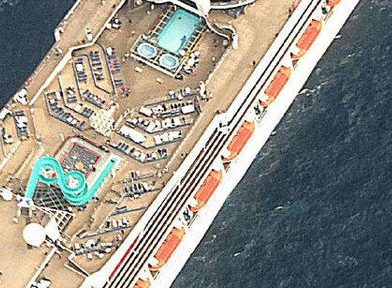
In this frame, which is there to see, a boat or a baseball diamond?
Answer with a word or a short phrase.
boat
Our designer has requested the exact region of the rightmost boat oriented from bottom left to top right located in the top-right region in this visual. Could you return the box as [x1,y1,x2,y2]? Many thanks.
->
[291,15,325,59]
